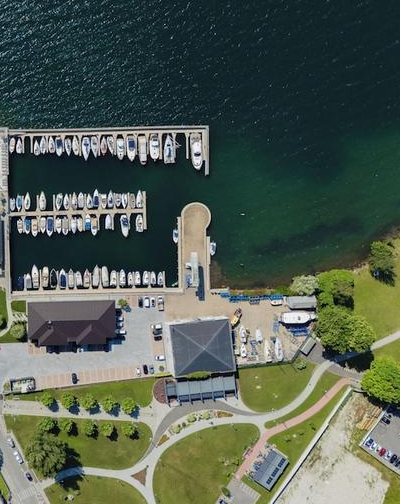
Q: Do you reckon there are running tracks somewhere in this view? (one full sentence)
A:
No, I can see no running track in this picture.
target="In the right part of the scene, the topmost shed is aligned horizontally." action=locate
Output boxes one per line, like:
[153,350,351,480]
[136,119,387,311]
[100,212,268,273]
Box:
[283,296,316,309]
